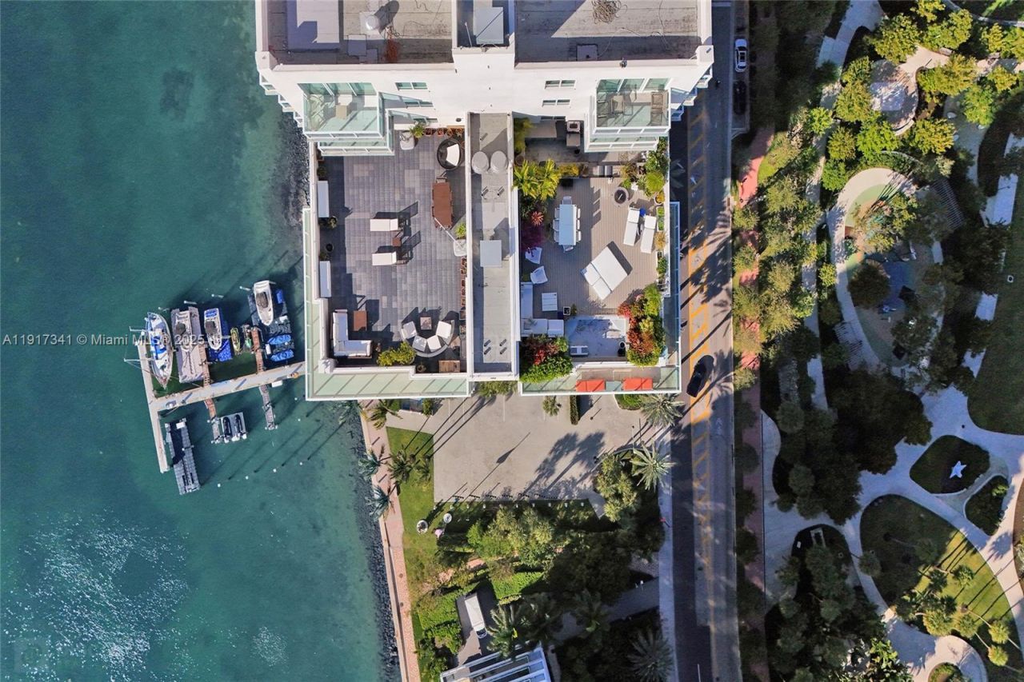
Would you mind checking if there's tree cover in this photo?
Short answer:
Yes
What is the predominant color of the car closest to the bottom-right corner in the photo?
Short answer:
black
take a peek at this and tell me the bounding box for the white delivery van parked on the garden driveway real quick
[463,590,488,637]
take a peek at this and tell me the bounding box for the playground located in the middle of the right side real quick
[827,167,942,375]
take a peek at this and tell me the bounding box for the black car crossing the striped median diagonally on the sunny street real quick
[686,357,713,395]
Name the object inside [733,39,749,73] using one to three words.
car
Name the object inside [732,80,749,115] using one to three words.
car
